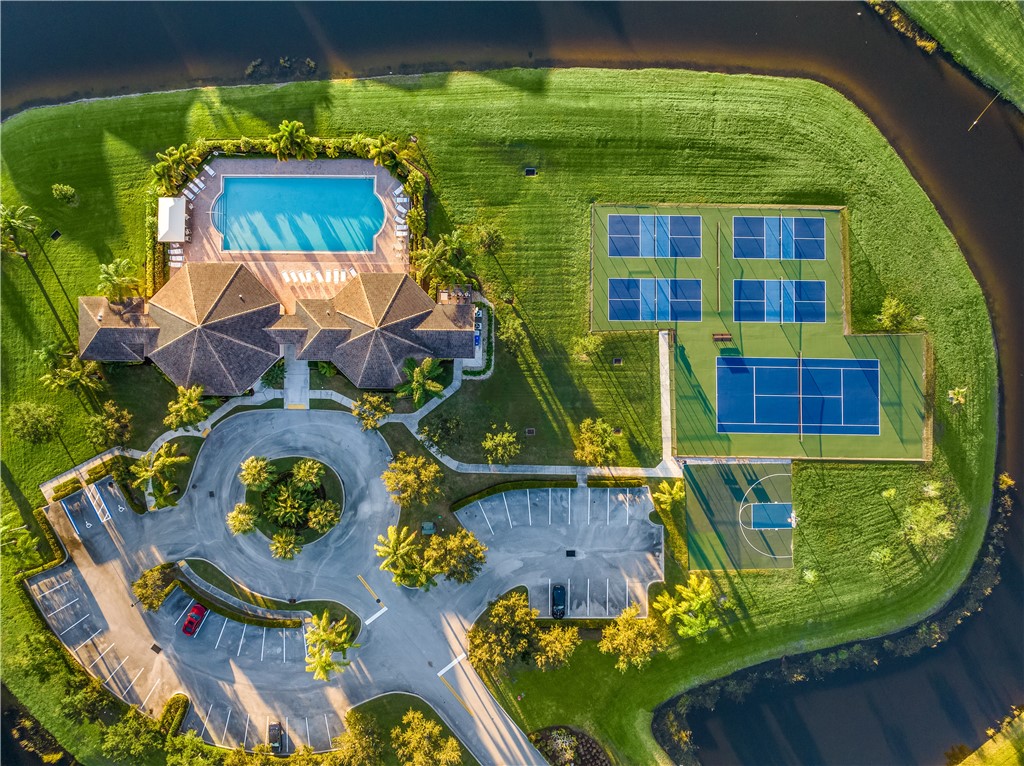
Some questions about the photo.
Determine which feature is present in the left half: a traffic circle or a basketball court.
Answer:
traffic circle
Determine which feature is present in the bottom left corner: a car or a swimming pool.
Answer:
car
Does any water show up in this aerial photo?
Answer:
Yes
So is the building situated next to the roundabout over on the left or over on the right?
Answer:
left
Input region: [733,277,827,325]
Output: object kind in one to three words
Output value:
sports court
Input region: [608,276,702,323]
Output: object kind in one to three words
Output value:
sports court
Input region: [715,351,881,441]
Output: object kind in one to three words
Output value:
tennis court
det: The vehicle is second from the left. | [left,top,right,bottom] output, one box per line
[265,722,282,755]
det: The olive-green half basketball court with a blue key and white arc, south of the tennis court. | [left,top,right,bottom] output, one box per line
[684,464,793,570]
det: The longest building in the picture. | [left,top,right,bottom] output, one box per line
[78,262,475,395]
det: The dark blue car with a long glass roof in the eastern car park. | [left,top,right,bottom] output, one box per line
[550,585,566,619]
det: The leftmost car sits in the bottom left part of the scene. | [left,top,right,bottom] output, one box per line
[180,605,207,637]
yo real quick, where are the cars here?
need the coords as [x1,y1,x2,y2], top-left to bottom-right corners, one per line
[265,722,282,755]
[550,585,566,619]
[180,605,207,637]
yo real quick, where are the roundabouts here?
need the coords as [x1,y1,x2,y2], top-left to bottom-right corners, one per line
[198,415,384,601]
